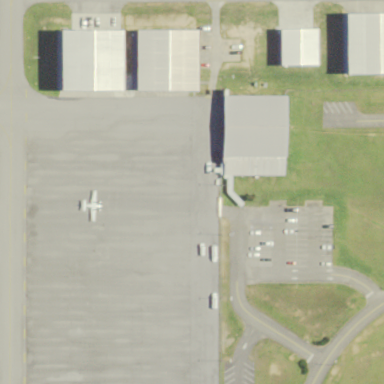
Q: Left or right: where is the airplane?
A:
left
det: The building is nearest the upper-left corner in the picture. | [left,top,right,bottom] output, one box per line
[58,31,126,92]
